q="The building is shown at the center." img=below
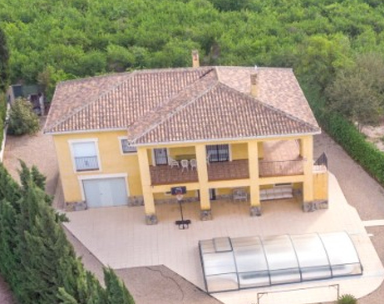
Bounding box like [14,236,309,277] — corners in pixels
[42,50,333,223]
